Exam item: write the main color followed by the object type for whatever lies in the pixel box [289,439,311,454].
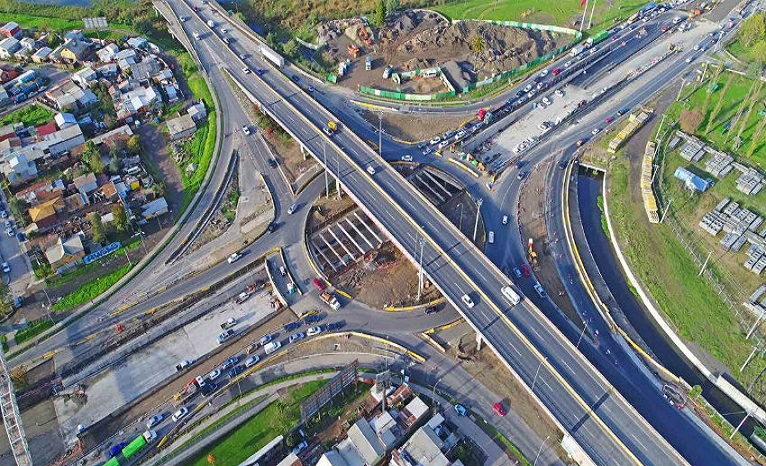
blue vehicle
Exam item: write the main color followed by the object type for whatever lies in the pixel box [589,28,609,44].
green vehicle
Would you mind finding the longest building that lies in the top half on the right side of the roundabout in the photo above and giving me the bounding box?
[672,165,710,192]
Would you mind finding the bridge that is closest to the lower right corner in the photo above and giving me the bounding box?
[714,376,766,425]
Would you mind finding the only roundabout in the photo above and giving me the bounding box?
[264,130,540,360]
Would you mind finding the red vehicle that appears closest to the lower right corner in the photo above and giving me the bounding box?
[494,401,506,416]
